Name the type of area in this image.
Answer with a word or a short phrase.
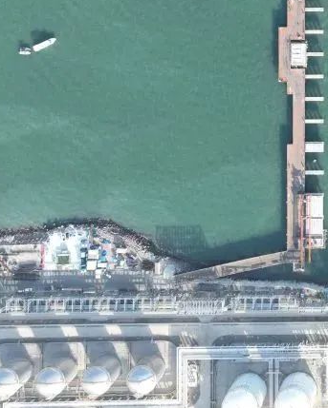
industrial area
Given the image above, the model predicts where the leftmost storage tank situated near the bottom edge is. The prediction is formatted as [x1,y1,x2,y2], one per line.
[0,354,34,401]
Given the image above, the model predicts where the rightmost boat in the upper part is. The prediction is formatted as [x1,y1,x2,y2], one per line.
[32,37,57,51]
